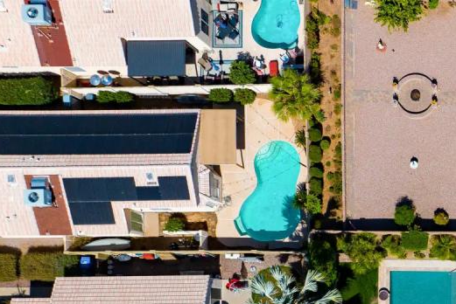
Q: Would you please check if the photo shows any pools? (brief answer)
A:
Yes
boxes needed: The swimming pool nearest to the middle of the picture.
[235,137,304,245]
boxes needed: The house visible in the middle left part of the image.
[0,109,218,239]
